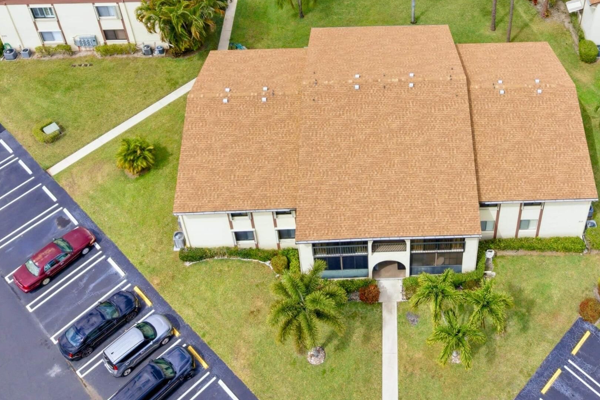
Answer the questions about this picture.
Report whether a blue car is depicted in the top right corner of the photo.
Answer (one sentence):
No, there's no blue car to be seen in the top right corner of the photo.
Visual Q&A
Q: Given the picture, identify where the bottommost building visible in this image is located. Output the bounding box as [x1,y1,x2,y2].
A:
[173,25,597,276]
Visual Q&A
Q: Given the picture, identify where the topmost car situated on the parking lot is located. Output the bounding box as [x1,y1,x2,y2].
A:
[9,229,99,295]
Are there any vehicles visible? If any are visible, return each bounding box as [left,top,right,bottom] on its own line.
[50,289,143,367]
[105,348,193,400]
[95,309,179,383]
[9,229,99,295]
